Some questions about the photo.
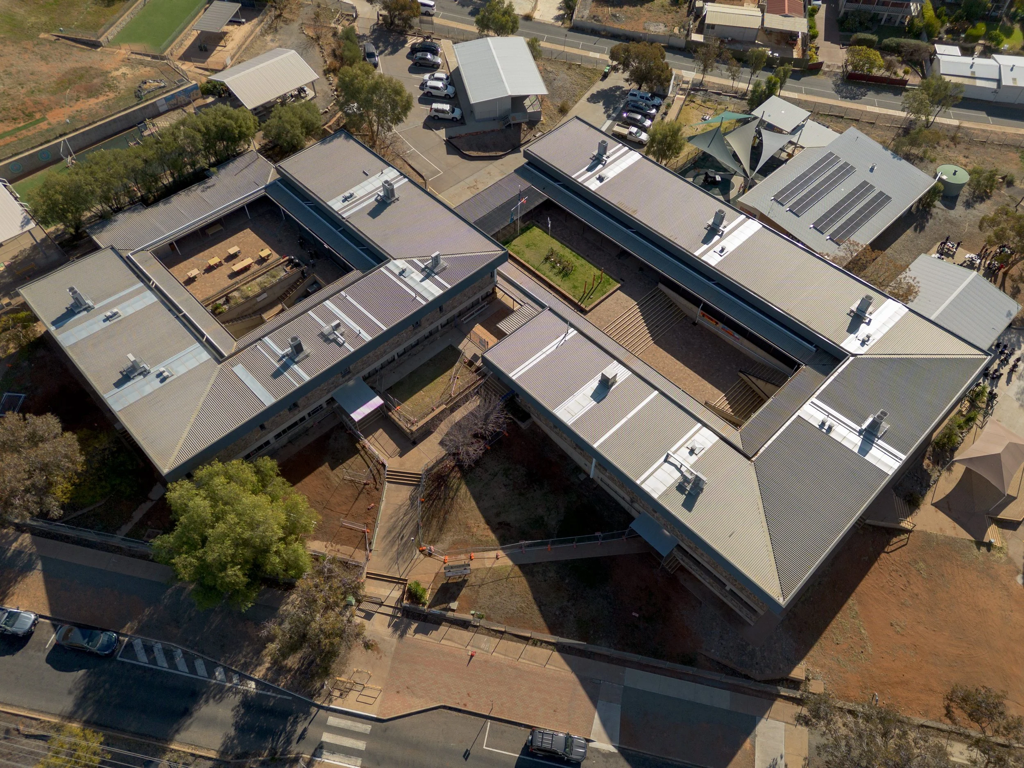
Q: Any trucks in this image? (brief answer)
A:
No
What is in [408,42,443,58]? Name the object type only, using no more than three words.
car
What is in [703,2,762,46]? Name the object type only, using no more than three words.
shed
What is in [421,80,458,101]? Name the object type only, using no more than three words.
car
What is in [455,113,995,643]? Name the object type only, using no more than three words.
building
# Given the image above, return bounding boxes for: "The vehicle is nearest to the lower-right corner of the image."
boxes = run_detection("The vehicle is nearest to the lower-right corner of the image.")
[524,726,589,764]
